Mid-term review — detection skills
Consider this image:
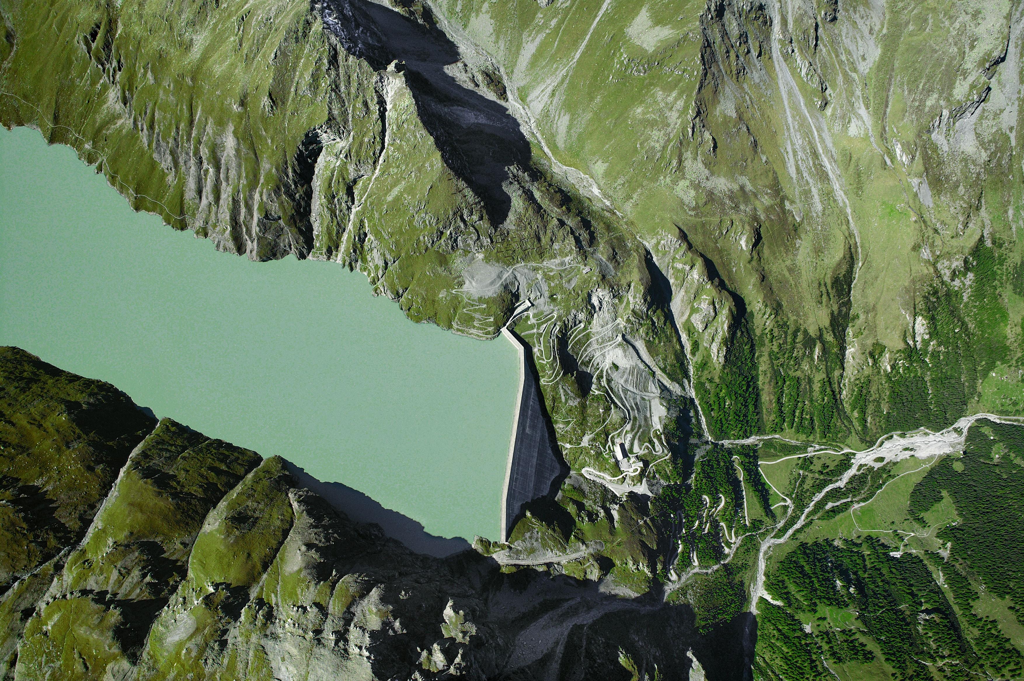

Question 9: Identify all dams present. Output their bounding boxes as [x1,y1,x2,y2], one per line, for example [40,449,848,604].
[500,327,559,542]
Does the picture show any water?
Yes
